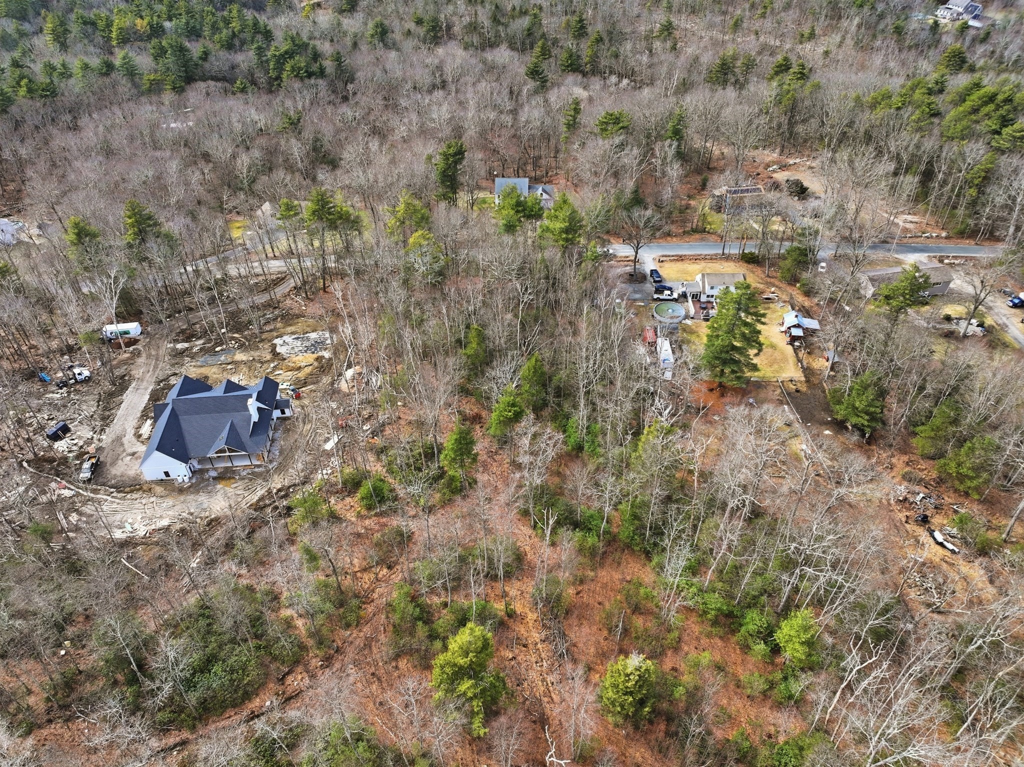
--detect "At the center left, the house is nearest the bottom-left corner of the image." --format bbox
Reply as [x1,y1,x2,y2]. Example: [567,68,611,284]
[139,372,294,478]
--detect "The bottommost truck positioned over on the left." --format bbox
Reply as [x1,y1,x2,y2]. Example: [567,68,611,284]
[74,450,103,477]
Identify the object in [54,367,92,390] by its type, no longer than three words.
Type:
truck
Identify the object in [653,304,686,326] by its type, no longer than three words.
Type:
swimming pool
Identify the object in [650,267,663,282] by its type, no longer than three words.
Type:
vehicle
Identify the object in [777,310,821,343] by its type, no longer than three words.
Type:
shed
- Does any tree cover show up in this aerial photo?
Yes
